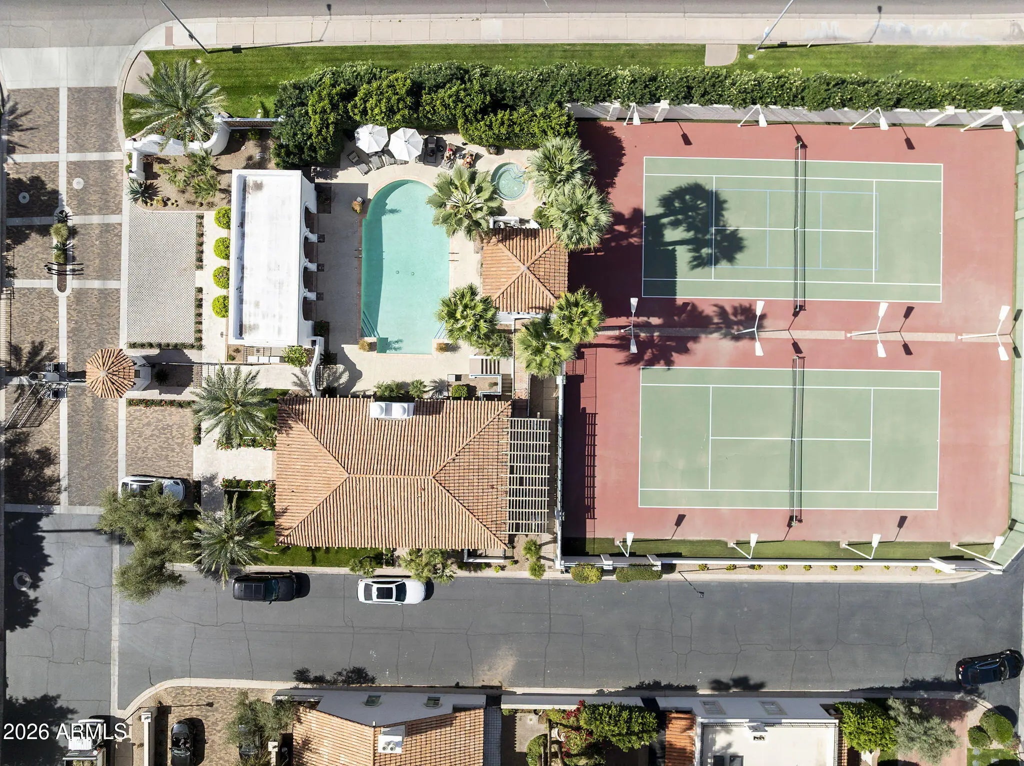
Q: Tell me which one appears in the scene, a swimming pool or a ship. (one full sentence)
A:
Of the two, only a swimming pool appears.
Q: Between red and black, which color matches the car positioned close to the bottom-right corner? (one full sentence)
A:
The color of the car positioned close to the bottom-right corner is black.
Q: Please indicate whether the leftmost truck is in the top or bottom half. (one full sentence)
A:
You can find the leftmost truck in the bottom half.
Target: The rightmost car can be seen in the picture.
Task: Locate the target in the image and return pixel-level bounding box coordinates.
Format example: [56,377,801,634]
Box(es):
[955,651,1023,688]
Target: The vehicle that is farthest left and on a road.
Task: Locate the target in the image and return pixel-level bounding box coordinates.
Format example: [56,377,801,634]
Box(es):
[60,721,107,766]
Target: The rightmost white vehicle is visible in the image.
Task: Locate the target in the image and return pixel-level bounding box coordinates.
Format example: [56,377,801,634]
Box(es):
[358,577,427,608]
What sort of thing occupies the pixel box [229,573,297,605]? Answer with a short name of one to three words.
car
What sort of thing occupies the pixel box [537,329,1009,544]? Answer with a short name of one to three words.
tennis court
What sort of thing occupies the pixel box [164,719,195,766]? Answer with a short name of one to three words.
car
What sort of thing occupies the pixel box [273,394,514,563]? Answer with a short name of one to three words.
building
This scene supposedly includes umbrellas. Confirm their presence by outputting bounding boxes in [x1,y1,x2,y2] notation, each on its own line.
[389,126,425,161]
[354,119,390,153]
